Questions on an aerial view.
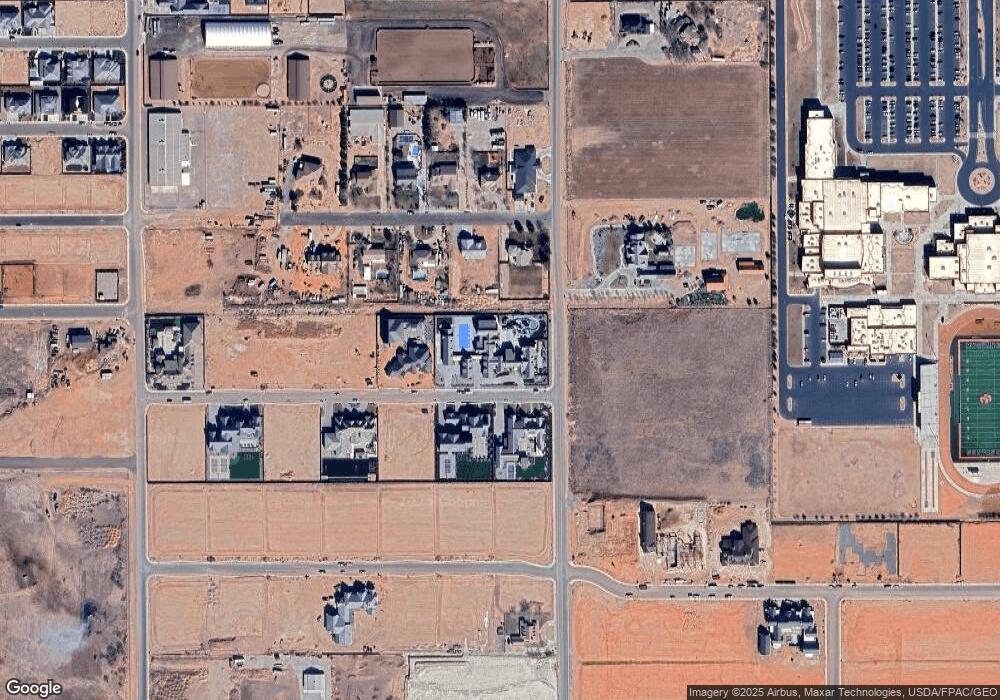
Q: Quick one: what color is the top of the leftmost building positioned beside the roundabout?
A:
white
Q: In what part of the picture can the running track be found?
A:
right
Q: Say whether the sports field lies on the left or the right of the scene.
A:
right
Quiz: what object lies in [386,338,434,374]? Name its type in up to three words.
house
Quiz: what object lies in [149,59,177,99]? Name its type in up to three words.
barn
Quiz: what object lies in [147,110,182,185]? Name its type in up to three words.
building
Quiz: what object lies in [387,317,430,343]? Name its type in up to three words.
house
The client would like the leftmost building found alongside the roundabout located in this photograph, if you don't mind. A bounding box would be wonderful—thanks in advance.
[799,110,937,287]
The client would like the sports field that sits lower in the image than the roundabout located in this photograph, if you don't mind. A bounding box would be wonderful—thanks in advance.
[951,336,1000,462]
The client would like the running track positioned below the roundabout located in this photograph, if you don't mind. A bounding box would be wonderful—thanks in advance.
[937,302,1000,498]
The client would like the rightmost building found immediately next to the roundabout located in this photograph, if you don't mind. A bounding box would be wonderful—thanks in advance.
[929,216,1000,294]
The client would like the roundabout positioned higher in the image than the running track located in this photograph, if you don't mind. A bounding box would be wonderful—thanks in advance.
[958,156,1000,203]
